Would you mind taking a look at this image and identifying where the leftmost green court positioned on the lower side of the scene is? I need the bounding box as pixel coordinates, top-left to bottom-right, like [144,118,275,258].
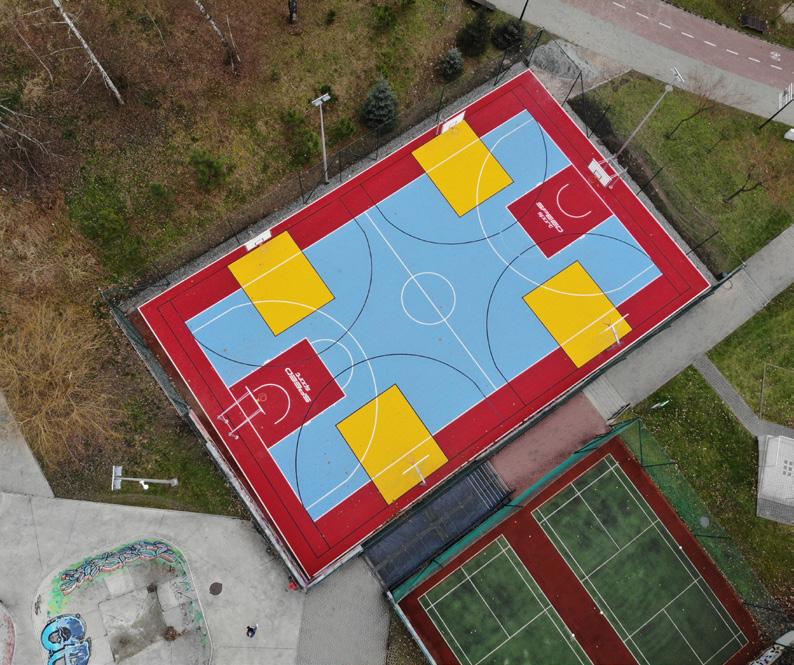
[418,535,594,665]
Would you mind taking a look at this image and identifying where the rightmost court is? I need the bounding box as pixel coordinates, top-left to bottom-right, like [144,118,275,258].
[531,453,751,665]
